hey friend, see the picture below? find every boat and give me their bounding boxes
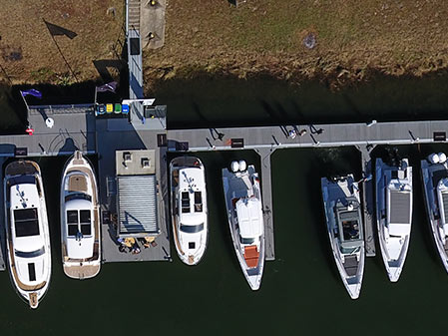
[1,155,52,309]
[223,148,267,289]
[321,146,366,298]
[169,153,210,265]
[421,152,448,275]
[375,148,411,281]
[59,151,101,279]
